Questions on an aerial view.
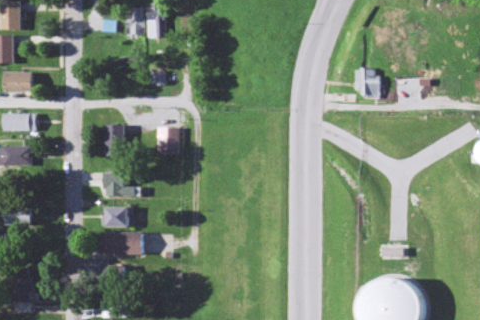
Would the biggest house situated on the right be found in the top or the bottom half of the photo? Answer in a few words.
top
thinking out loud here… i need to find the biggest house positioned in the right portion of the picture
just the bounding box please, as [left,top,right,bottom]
[355,68,382,99]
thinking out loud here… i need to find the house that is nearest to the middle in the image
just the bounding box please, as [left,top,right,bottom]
[156,127,182,156]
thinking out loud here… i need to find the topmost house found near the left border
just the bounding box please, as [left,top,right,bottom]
[0,1,23,30]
